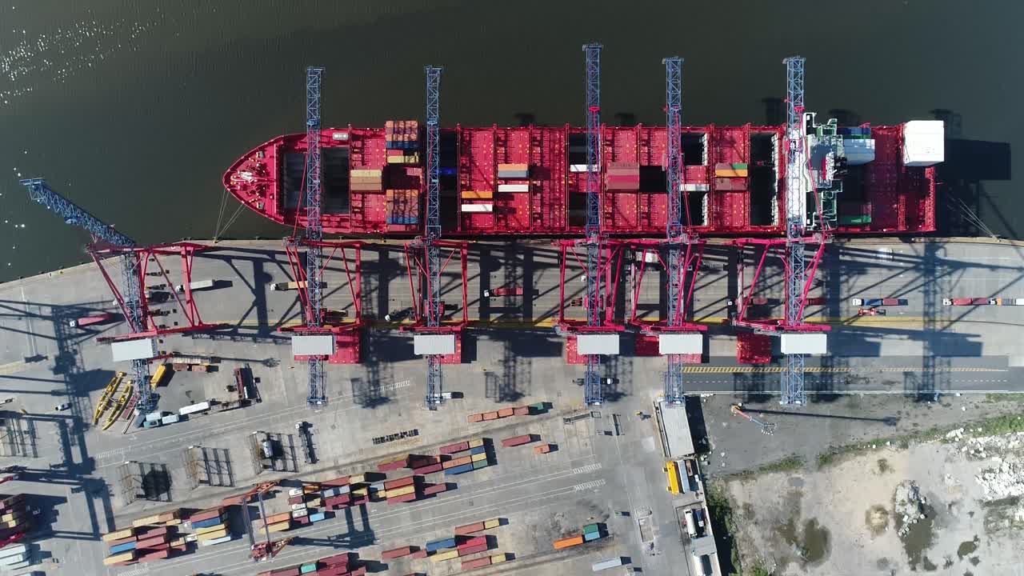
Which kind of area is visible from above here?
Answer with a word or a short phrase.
port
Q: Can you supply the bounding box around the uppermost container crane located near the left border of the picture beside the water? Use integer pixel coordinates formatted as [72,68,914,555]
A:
[13,177,216,416]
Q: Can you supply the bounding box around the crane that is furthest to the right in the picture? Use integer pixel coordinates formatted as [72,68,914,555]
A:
[724,55,838,408]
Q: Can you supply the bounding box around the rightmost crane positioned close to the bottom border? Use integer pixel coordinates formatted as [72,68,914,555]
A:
[244,478,293,559]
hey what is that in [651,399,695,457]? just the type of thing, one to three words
shed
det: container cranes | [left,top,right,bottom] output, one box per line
[546,42,630,408]
[13,177,216,416]
[619,56,713,408]
[395,65,477,408]
[724,55,838,408]
[244,478,293,559]
[273,65,372,408]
